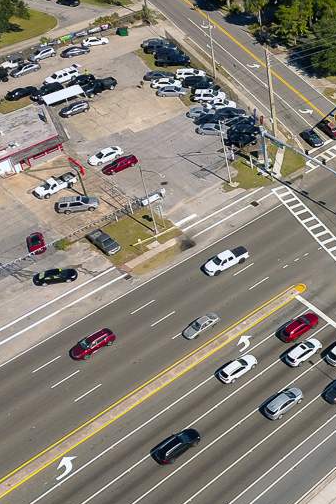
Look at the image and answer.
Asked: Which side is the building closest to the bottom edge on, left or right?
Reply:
left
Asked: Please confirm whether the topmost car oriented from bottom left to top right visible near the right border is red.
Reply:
Yes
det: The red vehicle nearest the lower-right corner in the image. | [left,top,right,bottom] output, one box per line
[280,313,321,345]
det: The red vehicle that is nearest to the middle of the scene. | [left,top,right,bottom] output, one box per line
[103,155,137,175]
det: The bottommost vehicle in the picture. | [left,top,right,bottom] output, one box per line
[151,426,201,468]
